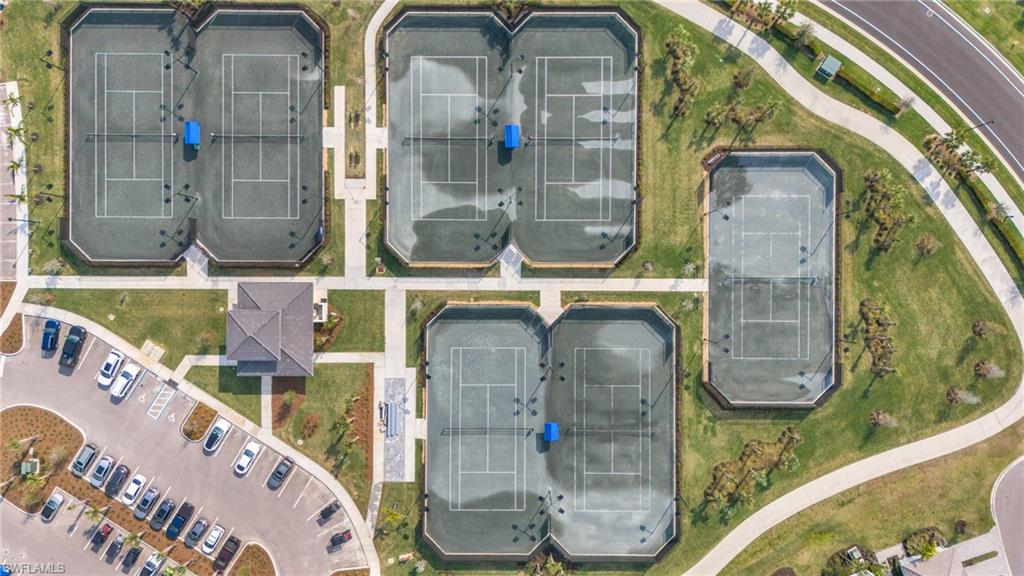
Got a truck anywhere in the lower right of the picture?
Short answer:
No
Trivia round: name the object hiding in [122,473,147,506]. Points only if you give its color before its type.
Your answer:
white car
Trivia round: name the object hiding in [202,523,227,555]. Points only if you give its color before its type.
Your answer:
white car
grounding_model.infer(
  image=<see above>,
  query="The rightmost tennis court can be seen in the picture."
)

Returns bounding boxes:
[709,153,836,404]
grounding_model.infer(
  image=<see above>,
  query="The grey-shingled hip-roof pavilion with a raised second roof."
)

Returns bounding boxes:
[226,282,314,377]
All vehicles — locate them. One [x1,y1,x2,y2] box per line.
[72,445,98,477]
[105,465,131,498]
[42,319,61,352]
[120,547,143,571]
[150,497,177,531]
[39,490,66,524]
[328,528,351,547]
[58,325,86,369]
[166,500,197,541]
[202,523,227,555]
[140,551,167,576]
[213,534,244,573]
[122,473,147,506]
[268,457,294,491]
[134,486,162,521]
[110,362,140,400]
[202,418,230,453]
[186,517,211,549]
[89,524,112,547]
[235,441,259,475]
[99,350,125,388]
[318,501,340,521]
[103,536,125,559]
[91,456,116,487]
